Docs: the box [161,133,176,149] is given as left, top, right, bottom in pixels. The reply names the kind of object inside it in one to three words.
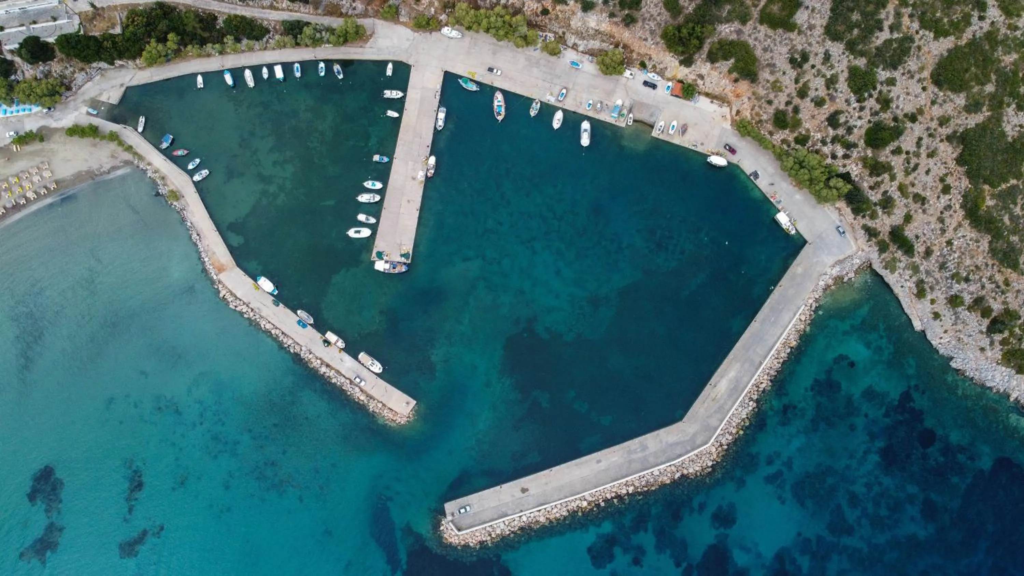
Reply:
boat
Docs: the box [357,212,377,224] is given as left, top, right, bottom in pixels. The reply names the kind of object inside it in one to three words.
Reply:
boat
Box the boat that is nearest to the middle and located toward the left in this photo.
[375,260,408,273]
